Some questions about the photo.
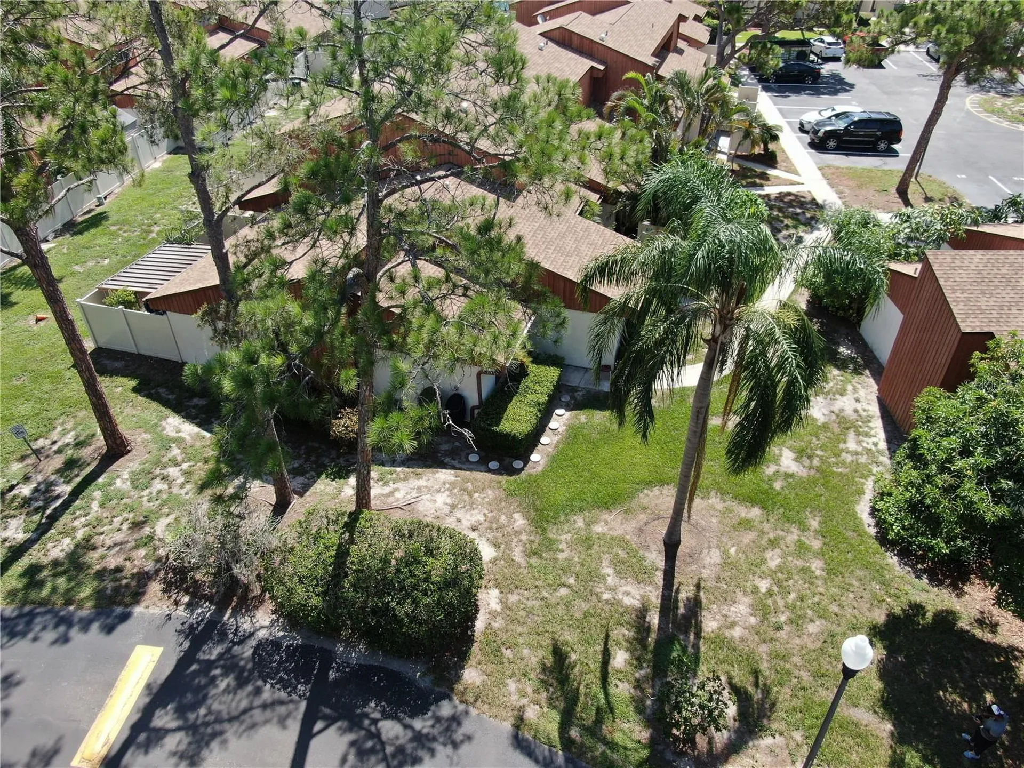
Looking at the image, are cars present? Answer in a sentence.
Yes, the picture does show a car.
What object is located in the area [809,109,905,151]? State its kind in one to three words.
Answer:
car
